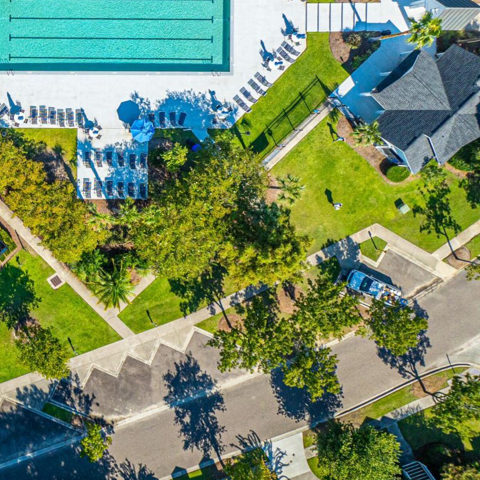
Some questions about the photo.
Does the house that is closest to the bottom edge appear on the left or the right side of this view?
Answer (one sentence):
You can find the house that is closest to the bottom edge on the right side of the picture.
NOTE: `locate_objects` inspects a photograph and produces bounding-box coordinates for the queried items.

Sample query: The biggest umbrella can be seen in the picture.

[130,119,155,143]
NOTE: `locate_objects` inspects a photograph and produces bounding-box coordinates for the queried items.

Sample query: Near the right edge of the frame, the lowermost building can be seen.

[359,45,480,175]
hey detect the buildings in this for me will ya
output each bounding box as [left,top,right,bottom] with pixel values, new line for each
[412,0,478,32]
[359,45,480,175]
